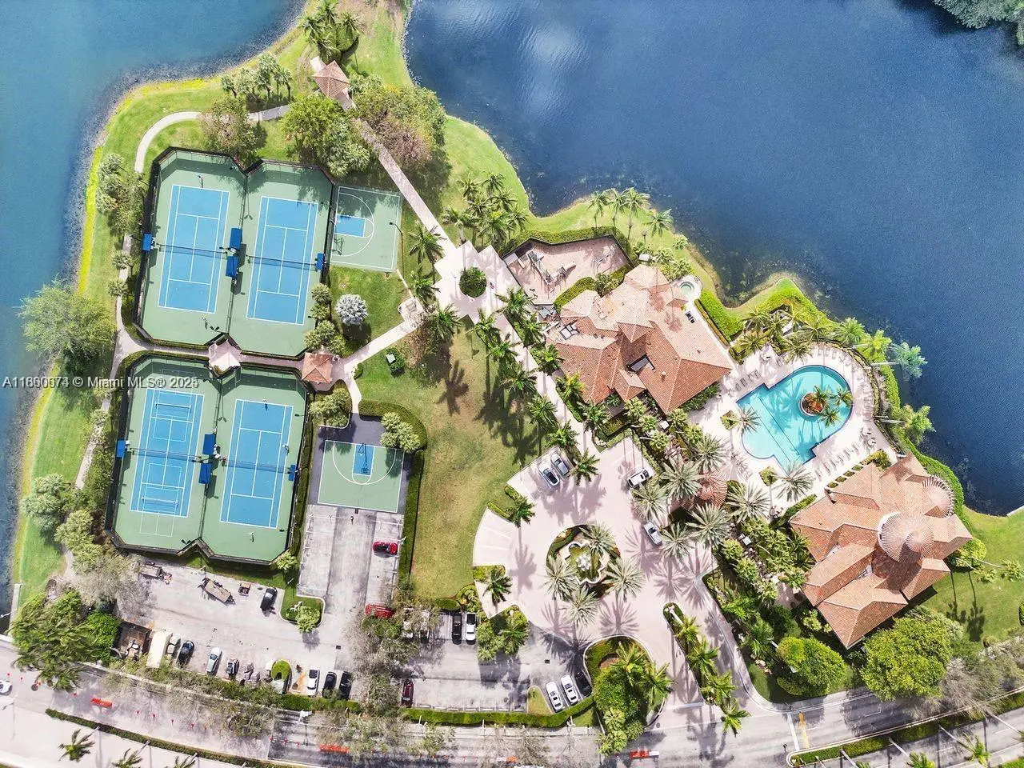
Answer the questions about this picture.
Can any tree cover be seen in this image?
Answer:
Yes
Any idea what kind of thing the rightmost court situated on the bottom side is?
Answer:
basketball court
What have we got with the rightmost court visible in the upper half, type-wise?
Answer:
basketball court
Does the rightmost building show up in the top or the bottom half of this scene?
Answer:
bottom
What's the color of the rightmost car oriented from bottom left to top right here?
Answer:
white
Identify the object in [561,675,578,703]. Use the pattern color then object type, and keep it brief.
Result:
white car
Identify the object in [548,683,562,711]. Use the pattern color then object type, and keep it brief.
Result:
white car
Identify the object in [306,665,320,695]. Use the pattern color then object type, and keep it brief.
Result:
white vehicle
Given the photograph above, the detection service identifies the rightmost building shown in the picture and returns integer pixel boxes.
[790,450,972,649]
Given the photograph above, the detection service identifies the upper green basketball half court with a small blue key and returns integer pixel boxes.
[328,184,404,273]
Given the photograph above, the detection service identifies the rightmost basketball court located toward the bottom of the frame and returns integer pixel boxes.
[317,439,405,514]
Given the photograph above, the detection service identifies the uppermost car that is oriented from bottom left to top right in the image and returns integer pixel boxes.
[627,469,651,489]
